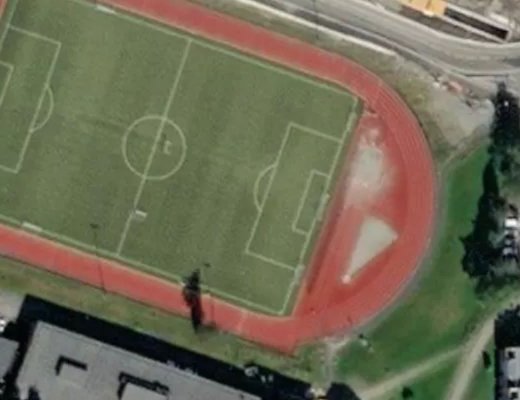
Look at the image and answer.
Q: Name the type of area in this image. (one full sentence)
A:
What you see here is a sports ground.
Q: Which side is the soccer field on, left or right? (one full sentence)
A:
It is on the left.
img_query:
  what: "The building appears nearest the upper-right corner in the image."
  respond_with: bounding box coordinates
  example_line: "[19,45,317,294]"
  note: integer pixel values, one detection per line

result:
[398,0,510,43]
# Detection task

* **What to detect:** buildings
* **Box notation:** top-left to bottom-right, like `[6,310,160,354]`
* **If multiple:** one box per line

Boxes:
[398,0,510,43]
[494,345,520,400]
[5,320,269,400]
[0,338,18,385]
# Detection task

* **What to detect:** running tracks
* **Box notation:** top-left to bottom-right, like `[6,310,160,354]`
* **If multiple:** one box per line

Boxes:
[0,0,438,356]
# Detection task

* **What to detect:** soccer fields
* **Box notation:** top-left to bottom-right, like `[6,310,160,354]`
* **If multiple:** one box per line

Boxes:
[0,0,363,316]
